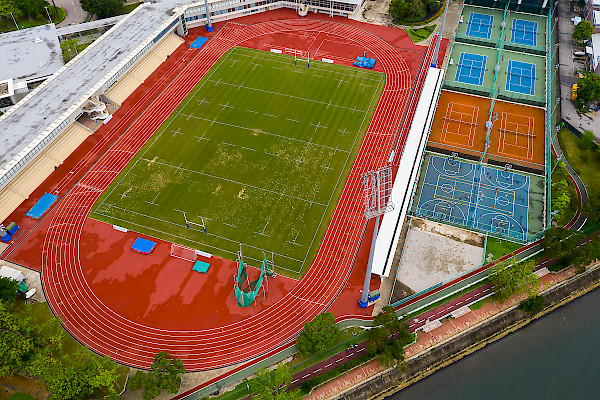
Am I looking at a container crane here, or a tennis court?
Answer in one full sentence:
This aerial view contains a tennis court.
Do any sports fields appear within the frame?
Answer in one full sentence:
Yes, I can see a sports field in this picture.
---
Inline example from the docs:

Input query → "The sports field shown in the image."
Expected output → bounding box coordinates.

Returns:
[88,46,386,280]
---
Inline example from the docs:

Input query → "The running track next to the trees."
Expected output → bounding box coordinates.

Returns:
[42,19,412,369]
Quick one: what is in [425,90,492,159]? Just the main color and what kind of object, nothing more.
orange tennis court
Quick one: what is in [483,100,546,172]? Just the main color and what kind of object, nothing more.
orange tennis court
